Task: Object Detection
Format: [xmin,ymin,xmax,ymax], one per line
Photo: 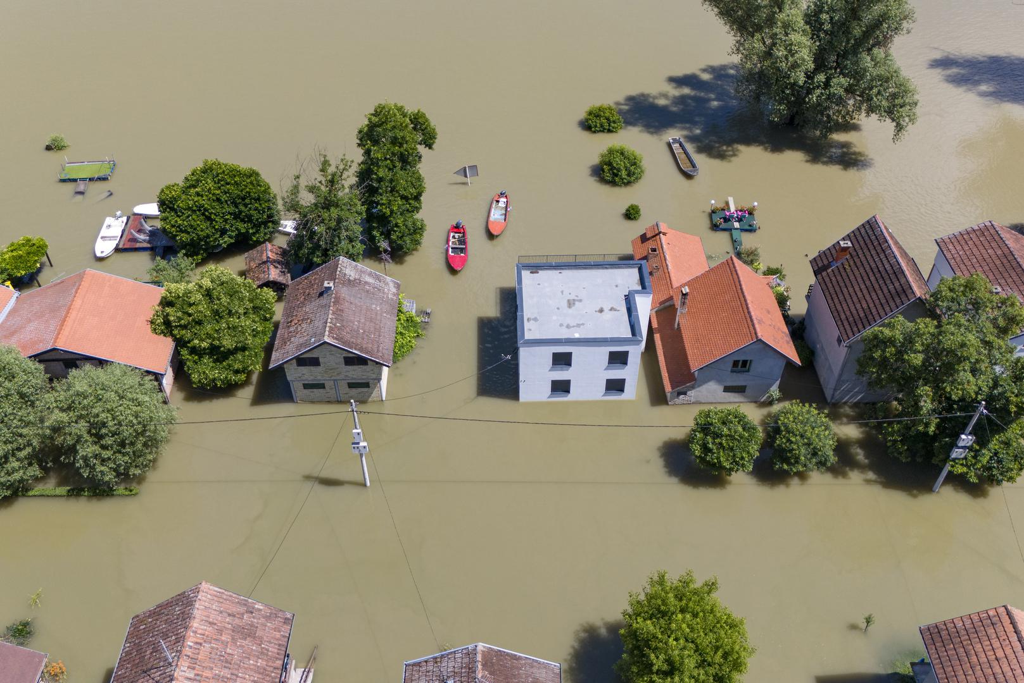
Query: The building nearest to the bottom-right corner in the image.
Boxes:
[910,604,1024,683]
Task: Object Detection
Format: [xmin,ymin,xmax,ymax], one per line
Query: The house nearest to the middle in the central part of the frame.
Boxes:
[512,250,653,402]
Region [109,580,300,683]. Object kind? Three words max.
house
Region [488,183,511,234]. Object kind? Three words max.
boat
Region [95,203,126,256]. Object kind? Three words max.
boat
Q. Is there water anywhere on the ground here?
Yes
